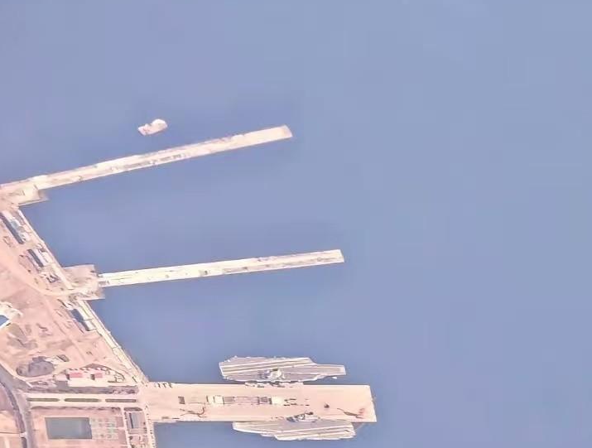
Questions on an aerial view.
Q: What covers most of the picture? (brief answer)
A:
water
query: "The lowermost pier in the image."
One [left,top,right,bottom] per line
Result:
[149,383,378,423]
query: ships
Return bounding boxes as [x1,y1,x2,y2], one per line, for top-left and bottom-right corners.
[233,409,357,441]
[137,116,169,136]
[220,357,347,383]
